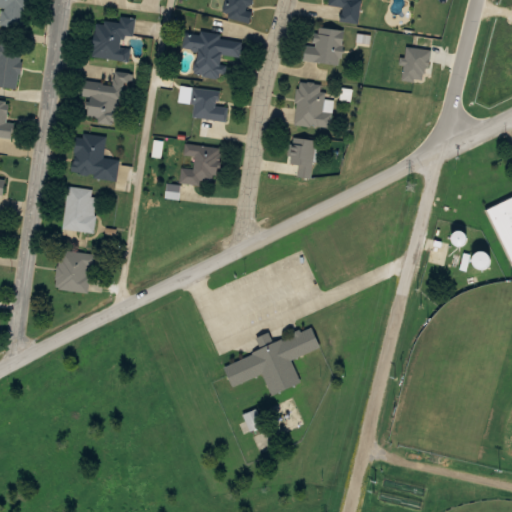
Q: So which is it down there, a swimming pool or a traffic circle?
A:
swimming pool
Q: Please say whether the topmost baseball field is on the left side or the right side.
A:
right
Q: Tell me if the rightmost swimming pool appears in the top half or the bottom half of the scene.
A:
top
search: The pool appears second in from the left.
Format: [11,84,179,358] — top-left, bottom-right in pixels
[180,52,197,75]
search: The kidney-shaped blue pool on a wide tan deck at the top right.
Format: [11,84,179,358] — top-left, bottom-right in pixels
[385,0,411,27]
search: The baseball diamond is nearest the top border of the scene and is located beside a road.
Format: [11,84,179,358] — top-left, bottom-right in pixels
[390,281,512,474]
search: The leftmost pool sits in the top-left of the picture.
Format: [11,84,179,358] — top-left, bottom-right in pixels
[126,36,144,62]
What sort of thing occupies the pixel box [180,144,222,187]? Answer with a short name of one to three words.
house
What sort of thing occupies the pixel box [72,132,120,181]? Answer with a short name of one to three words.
house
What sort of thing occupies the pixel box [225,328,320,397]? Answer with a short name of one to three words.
building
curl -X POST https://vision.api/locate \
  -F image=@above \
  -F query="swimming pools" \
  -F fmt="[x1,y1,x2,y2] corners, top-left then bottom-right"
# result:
[126,36,144,62]
[385,0,411,27]
[180,52,197,75]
